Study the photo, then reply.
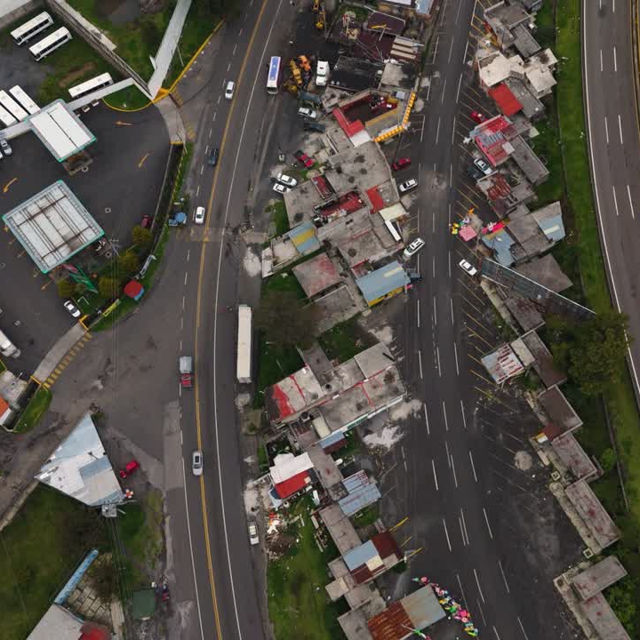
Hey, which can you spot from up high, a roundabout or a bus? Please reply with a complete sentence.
Visible in the photo is a bus.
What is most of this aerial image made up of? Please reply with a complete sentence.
The largest share of the image is taken up by paved ground.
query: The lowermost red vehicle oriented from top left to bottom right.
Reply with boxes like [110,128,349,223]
[292,149,317,169]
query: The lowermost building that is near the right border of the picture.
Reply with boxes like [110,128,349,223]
[579,590,633,640]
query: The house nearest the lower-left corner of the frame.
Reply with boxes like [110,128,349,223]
[31,602,89,640]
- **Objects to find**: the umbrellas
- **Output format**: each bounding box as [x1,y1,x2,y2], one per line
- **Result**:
[126,489,136,498]
[176,211,188,223]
